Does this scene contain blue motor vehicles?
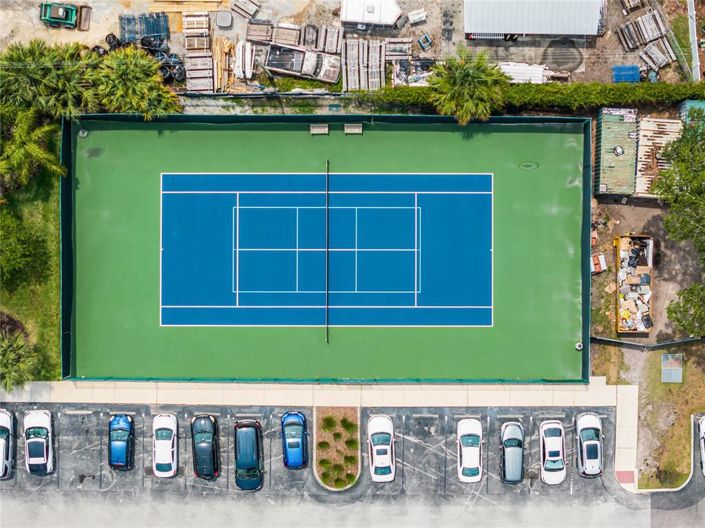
Yes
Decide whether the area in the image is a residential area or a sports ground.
sports ground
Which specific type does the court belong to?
tennis court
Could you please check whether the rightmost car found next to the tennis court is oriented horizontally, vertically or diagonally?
vertically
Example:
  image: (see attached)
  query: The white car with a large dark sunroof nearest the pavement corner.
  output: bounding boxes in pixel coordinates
[574,412,607,478]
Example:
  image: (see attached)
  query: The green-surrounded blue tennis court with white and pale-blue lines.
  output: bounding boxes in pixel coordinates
[71,121,582,381]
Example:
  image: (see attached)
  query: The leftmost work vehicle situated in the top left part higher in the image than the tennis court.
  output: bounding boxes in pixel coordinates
[37,0,97,34]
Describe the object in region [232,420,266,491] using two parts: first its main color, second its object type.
blue car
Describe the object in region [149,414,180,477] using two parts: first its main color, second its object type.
white car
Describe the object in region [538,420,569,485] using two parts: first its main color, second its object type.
white car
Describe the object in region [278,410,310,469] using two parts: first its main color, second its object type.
blue car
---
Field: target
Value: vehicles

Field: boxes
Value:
[455,419,486,483]
[0,409,18,479]
[105,414,136,469]
[538,420,569,485]
[149,414,180,477]
[37,0,97,34]
[278,410,310,469]
[188,414,221,479]
[498,421,529,483]
[20,410,56,475]
[262,41,344,84]
[366,414,397,482]
[232,420,266,491]
[574,412,607,478]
